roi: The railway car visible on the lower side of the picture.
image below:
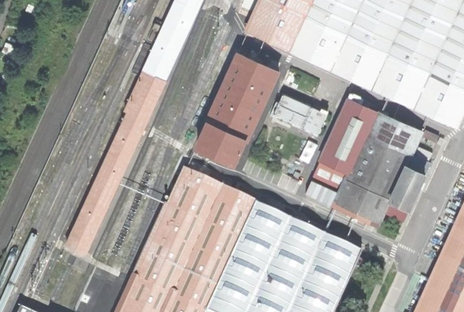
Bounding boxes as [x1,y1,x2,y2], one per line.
[0,244,18,288]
